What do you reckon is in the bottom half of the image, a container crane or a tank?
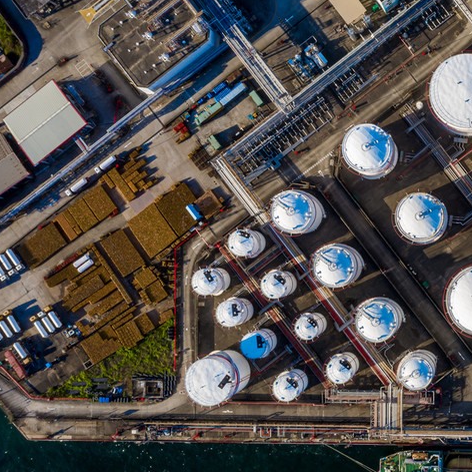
tank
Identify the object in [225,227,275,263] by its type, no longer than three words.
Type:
storage tank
